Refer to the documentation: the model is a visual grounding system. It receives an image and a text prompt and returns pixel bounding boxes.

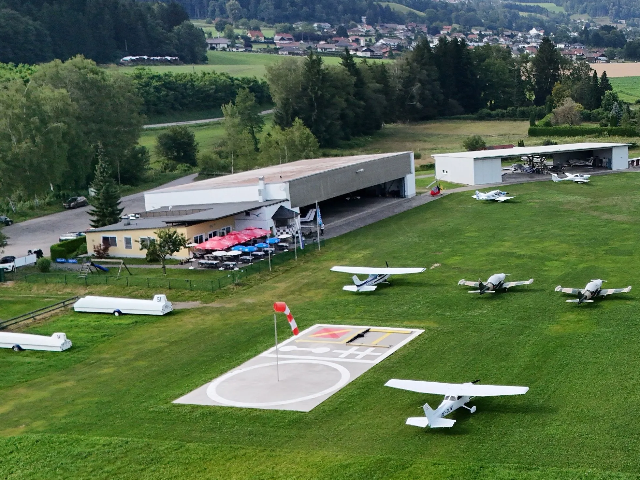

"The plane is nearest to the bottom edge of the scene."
[386,379,530,430]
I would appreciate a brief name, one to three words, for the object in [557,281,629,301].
airplane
